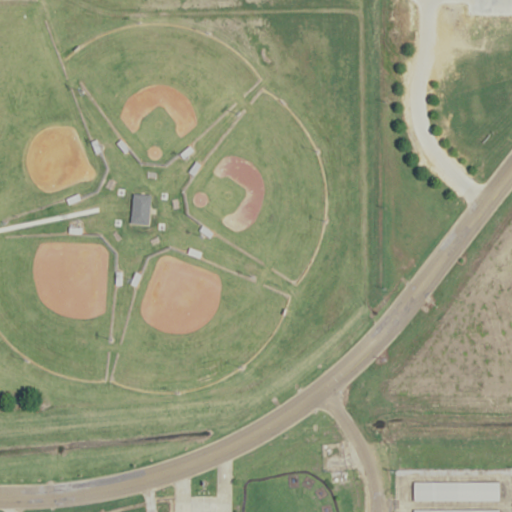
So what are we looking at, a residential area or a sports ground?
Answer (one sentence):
This image shows a sports ground.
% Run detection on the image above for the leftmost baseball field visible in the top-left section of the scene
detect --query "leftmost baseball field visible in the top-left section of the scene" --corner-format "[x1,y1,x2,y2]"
[0,19,110,223]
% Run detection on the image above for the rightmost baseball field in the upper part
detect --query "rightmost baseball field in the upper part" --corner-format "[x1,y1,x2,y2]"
[181,86,330,286]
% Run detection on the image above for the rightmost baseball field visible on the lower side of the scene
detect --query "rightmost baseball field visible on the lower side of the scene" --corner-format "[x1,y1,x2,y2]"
[110,244,291,396]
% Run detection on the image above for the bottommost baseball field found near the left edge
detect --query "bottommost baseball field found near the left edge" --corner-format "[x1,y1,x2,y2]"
[0,232,120,384]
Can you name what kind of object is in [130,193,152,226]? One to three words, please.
building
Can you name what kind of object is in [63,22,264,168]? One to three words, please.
baseball field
